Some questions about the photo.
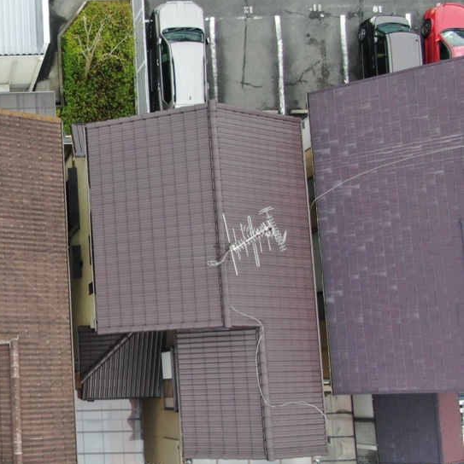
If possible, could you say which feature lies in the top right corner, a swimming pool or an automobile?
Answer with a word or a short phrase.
automobile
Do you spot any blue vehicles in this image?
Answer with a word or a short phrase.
No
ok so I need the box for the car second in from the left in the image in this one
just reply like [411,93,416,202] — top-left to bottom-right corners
[358,14,421,77]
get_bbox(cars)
[418,4,464,65]
[358,14,421,77]
[149,3,208,113]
